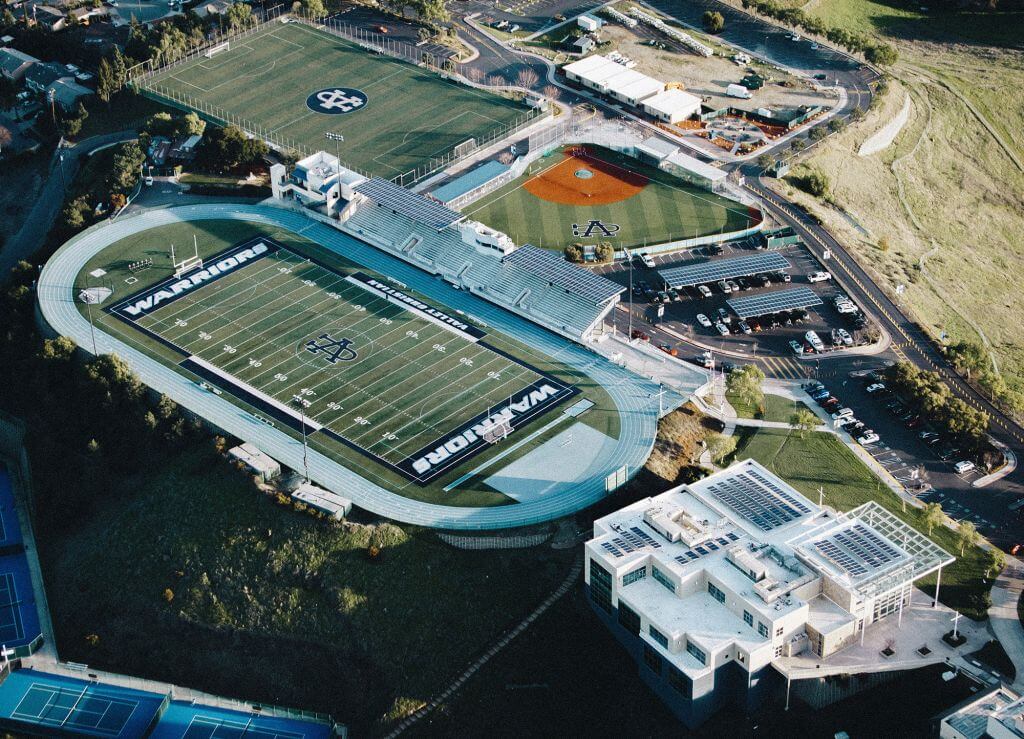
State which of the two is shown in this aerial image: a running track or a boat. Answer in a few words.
running track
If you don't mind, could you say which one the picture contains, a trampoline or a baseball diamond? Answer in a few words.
baseball diamond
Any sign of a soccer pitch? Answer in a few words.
Yes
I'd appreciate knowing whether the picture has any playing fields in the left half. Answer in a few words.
Yes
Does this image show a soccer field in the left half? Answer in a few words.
Yes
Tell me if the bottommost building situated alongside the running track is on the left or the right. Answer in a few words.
right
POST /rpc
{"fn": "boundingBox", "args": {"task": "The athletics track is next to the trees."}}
[37,203,658,530]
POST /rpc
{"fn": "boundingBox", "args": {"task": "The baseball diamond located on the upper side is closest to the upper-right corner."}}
[453,144,768,258]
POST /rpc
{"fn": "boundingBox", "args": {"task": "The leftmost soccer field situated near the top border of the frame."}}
[128,15,542,189]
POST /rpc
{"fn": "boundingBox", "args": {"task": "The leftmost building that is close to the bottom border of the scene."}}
[583,456,955,735]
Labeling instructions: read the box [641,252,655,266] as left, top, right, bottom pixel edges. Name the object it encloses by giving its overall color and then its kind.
white car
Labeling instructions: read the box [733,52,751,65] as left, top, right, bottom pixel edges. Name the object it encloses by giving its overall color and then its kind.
white vehicle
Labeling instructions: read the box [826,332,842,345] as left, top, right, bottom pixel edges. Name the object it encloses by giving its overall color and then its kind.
gray vehicle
